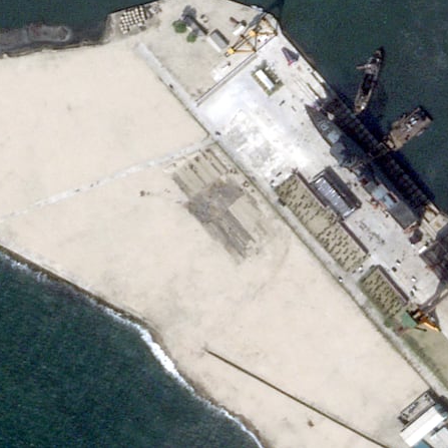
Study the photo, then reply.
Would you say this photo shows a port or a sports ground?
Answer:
port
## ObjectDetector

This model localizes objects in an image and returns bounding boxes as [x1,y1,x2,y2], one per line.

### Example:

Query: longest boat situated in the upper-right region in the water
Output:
[357,48,384,112]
